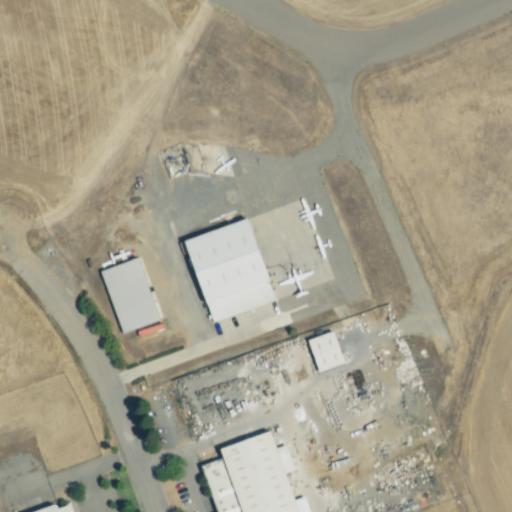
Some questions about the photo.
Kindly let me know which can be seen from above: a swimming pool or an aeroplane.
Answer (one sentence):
The image shows an aeroplane.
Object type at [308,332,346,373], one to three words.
shed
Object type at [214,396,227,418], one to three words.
vehicle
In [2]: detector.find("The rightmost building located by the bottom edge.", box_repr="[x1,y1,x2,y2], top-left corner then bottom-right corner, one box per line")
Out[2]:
[202,432,311,512]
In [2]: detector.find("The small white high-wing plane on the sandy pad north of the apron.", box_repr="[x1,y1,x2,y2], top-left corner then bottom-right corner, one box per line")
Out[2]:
[215,156,236,174]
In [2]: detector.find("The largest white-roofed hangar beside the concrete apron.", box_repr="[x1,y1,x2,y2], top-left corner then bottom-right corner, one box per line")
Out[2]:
[185,219,276,324]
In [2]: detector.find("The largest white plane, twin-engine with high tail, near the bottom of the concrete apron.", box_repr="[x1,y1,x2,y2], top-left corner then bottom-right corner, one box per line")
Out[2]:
[280,268,314,298]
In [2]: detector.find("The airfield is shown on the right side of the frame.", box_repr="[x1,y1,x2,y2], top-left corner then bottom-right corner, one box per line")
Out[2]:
[172,0,512,342]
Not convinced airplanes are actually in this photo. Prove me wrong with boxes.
[280,268,314,298]
[102,255,122,266]
[210,212,236,224]
[302,198,325,230]
[215,156,236,174]
[316,234,334,258]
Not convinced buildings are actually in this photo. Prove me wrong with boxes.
[202,432,311,512]
[27,498,76,512]
[308,332,346,373]
[102,258,163,334]
[185,219,276,324]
